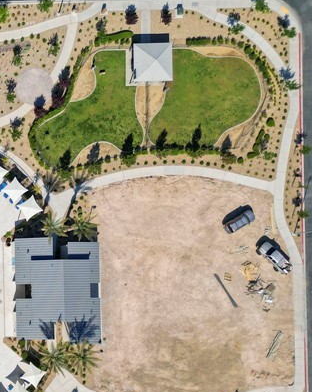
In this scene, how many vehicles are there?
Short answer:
2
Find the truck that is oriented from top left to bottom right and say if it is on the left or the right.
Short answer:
right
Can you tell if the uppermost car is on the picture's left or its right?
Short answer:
right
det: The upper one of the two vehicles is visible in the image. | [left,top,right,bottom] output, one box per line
[222,208,256,231]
